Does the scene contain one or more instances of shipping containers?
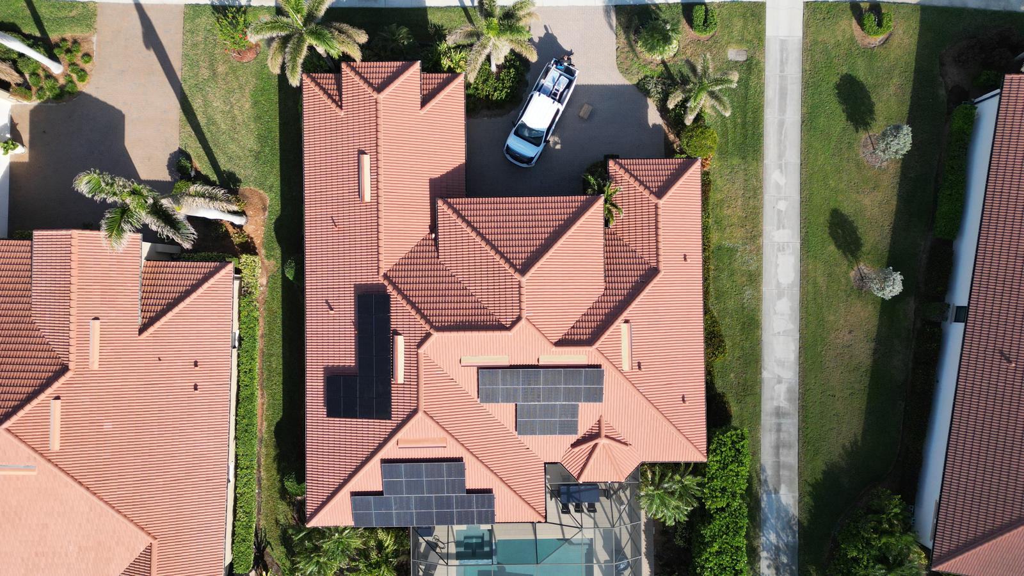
No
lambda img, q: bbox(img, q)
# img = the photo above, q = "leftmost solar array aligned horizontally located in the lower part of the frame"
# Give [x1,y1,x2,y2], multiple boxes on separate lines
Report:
[351,462,495,526]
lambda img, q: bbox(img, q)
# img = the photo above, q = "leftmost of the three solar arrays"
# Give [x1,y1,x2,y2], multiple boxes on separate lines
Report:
[327,294,391,420]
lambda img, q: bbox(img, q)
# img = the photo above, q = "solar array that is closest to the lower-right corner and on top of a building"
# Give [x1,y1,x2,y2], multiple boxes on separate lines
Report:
[479,369,604,435]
